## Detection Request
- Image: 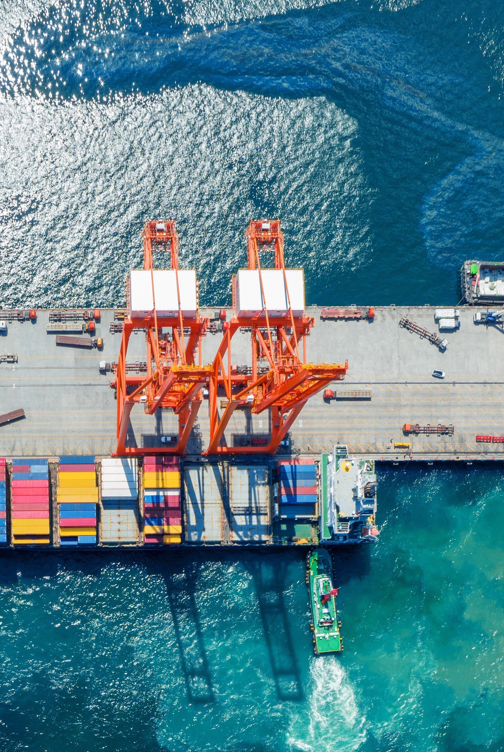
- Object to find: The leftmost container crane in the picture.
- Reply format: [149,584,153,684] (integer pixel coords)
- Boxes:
[112,227,212,455]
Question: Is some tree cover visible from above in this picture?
No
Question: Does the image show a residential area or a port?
port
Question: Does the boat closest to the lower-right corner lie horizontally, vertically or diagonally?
vertically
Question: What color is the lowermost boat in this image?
green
